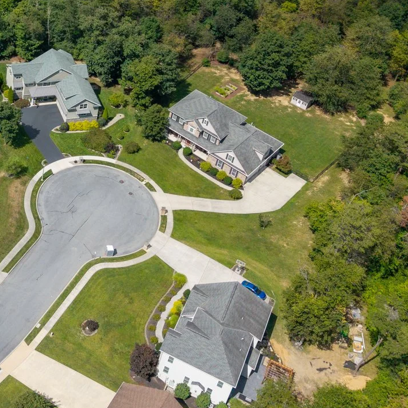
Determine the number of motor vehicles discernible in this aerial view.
1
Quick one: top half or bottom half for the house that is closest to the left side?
top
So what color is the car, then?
blue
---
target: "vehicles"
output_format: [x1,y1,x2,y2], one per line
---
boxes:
[241,280,268,301]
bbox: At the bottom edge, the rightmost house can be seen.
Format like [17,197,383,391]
[159,283,270,403]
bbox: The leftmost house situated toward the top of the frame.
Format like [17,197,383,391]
[8,46,101,122]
